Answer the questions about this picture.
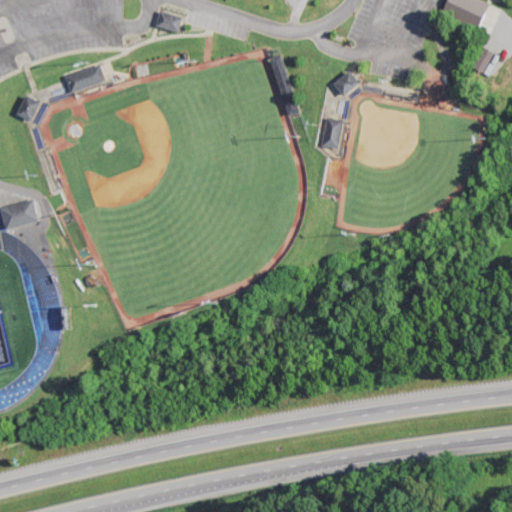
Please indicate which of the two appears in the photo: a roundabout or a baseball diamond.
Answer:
baseball diamond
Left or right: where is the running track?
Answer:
left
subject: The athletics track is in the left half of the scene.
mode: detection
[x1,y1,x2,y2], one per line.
[0,229,62,410]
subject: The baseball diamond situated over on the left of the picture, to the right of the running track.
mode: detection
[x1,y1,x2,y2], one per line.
[42,50,306,328]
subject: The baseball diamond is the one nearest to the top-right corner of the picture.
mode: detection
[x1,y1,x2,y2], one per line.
[337,90,488,236]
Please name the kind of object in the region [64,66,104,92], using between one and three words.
building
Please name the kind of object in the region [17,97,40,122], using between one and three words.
building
